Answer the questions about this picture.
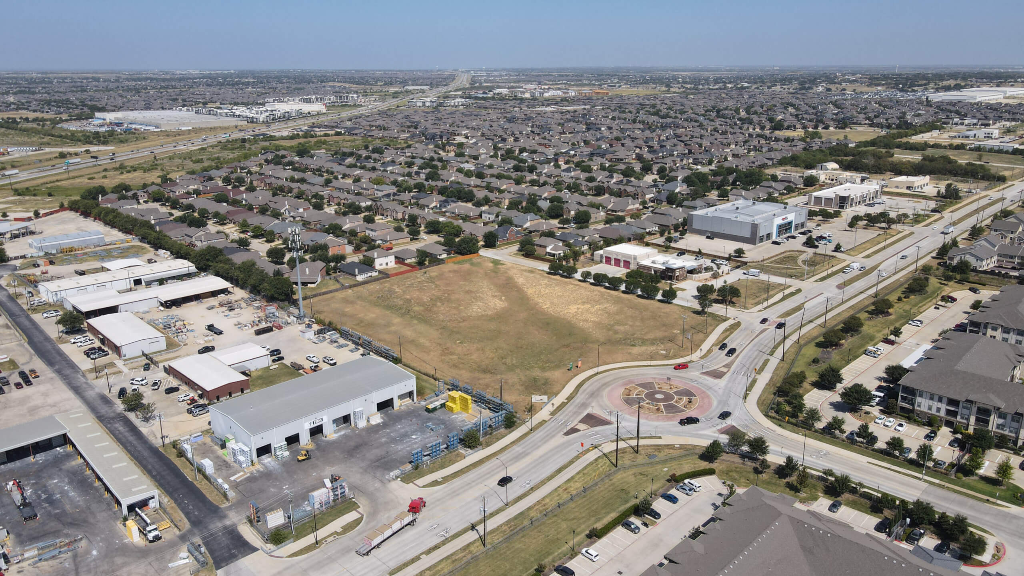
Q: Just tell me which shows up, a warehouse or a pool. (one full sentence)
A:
I can see a warehouse in this picture.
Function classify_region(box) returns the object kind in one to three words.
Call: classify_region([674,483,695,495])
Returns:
vehicle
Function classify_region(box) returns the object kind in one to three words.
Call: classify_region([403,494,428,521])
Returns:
truck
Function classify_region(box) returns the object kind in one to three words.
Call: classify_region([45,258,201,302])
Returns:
shed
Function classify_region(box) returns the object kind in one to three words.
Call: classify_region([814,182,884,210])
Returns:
building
